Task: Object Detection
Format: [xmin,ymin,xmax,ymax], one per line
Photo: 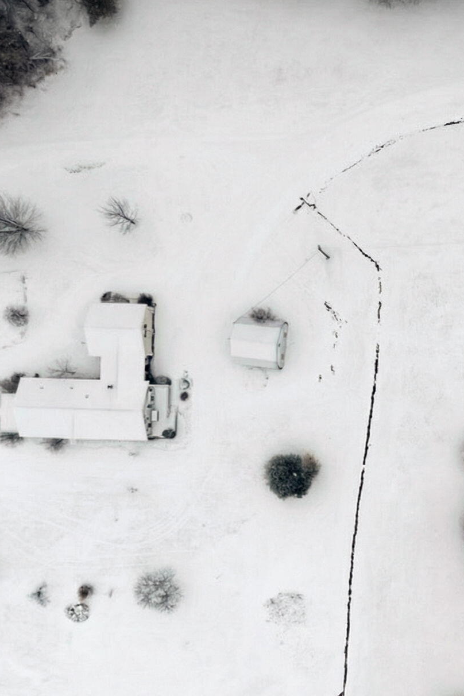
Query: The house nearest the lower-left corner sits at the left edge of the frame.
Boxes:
[0,303,179,440]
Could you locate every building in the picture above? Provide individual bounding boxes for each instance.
[0,303,179,440]
[229,317,286,370]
